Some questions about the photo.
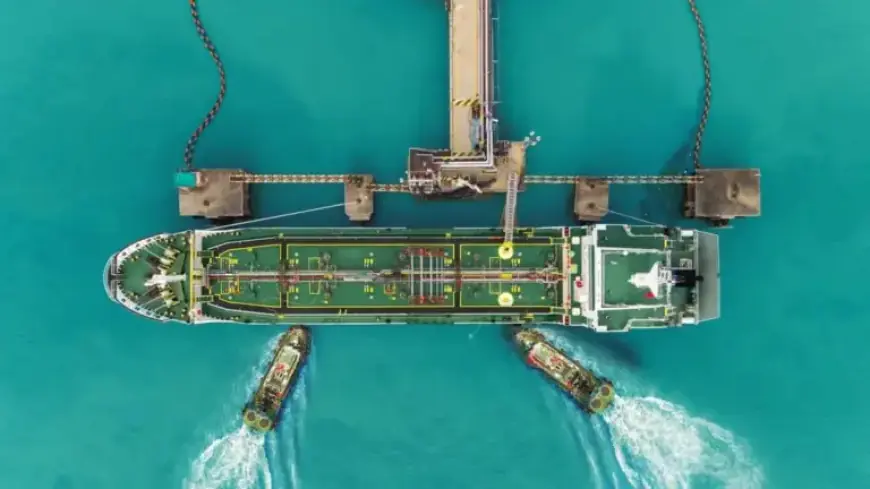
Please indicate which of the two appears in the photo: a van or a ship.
ship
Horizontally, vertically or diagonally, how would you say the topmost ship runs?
horizontally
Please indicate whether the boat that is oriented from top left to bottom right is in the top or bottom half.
bottom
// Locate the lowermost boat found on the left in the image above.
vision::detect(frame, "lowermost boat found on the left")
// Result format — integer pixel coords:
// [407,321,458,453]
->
[243,325,310,430]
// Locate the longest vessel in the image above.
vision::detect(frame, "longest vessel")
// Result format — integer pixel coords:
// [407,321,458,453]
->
[104,223,725,332]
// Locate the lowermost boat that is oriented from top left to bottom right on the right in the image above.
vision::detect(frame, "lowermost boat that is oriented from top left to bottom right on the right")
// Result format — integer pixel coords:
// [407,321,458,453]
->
[516,329,615,418]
